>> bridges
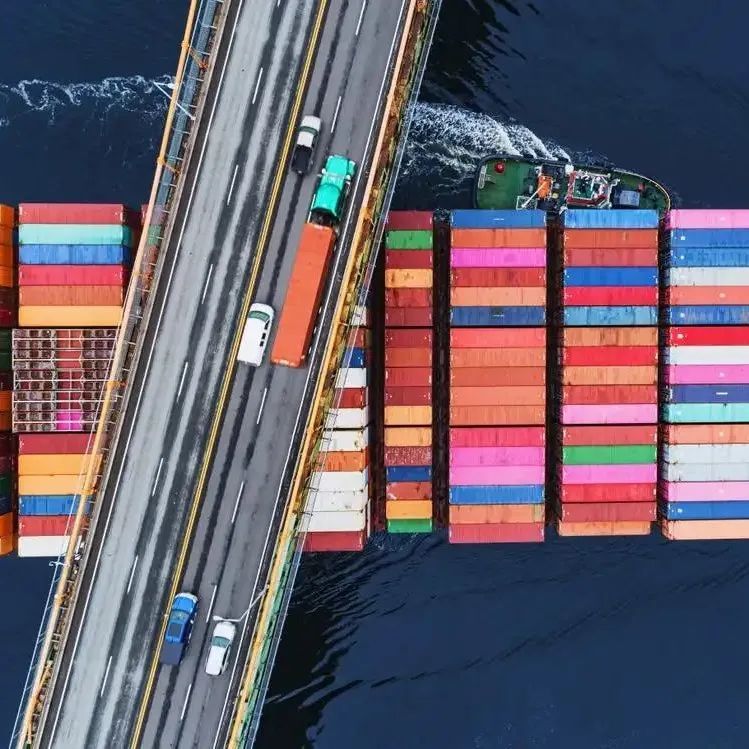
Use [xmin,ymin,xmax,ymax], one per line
[7,0,444,749]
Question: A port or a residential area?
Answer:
port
